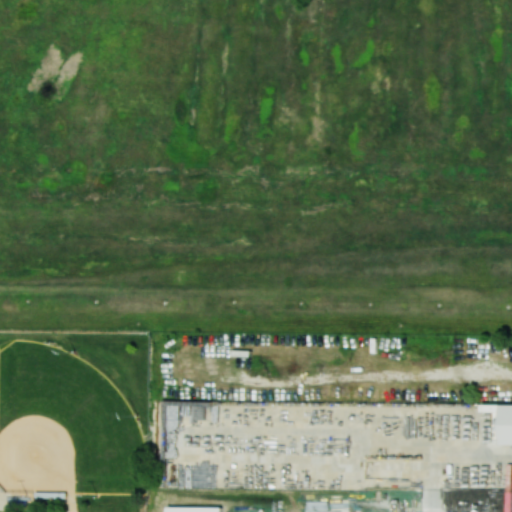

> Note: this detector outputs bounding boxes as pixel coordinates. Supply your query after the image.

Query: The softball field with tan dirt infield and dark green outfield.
[0,342,142,512]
